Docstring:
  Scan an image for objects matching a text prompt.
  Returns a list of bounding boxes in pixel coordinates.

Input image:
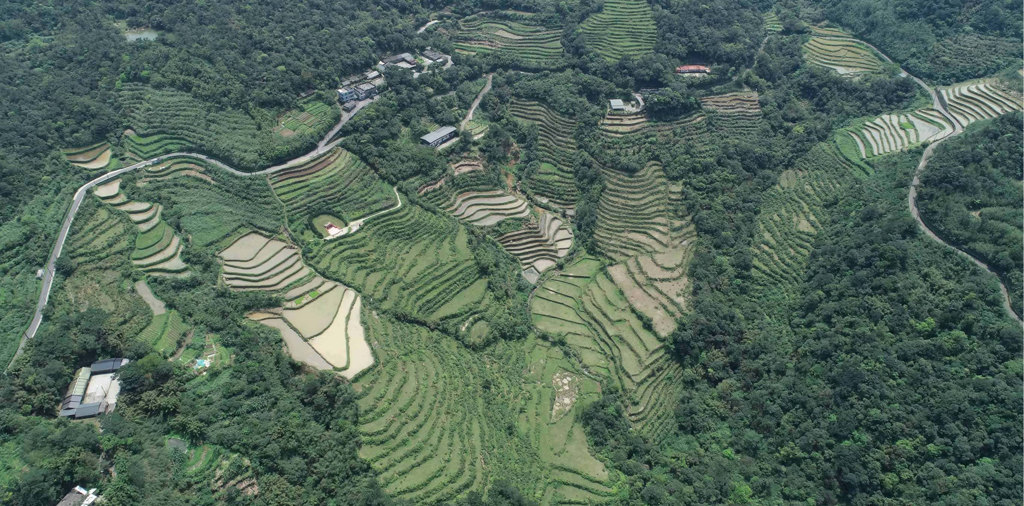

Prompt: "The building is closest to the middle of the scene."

[419,124,456,148]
